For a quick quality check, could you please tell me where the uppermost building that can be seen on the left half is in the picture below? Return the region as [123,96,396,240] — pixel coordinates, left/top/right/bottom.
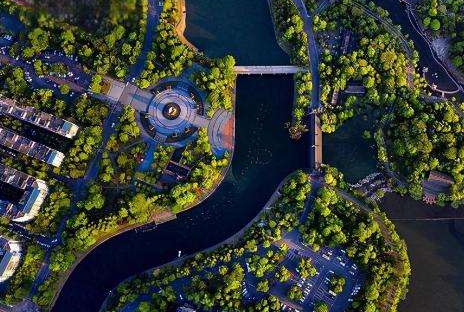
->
[0,95,77,138]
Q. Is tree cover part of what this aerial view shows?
Yes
